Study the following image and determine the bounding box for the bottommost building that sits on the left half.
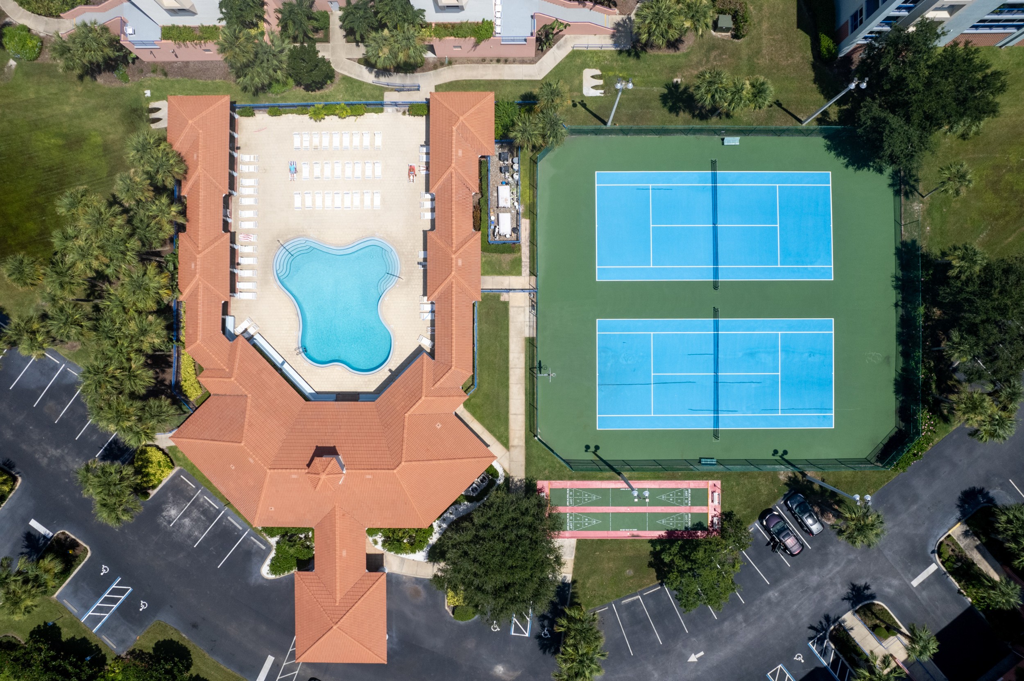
[166,91,497,665]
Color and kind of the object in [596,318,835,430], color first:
blue tennis court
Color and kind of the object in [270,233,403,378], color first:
blue swimming pool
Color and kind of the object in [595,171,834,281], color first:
blue tennis court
